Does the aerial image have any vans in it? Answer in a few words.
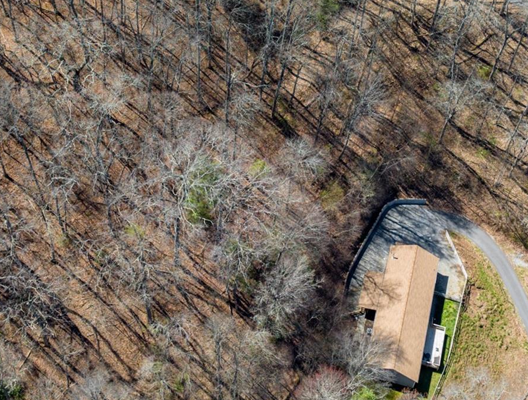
No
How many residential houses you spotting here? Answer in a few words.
1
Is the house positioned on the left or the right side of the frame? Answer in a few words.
right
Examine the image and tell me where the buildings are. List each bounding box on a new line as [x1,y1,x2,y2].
[359,245,447,393]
